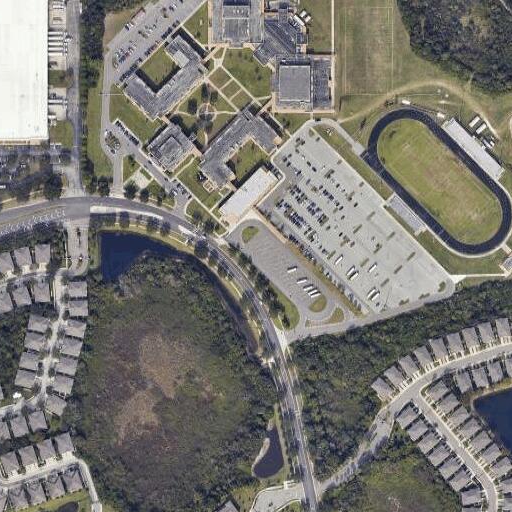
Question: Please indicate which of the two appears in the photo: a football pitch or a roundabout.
football pitch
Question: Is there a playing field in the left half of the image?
No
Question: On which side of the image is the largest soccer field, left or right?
right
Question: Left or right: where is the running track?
right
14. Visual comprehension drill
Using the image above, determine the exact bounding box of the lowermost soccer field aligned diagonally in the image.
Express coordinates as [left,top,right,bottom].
[377,118,503,244]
